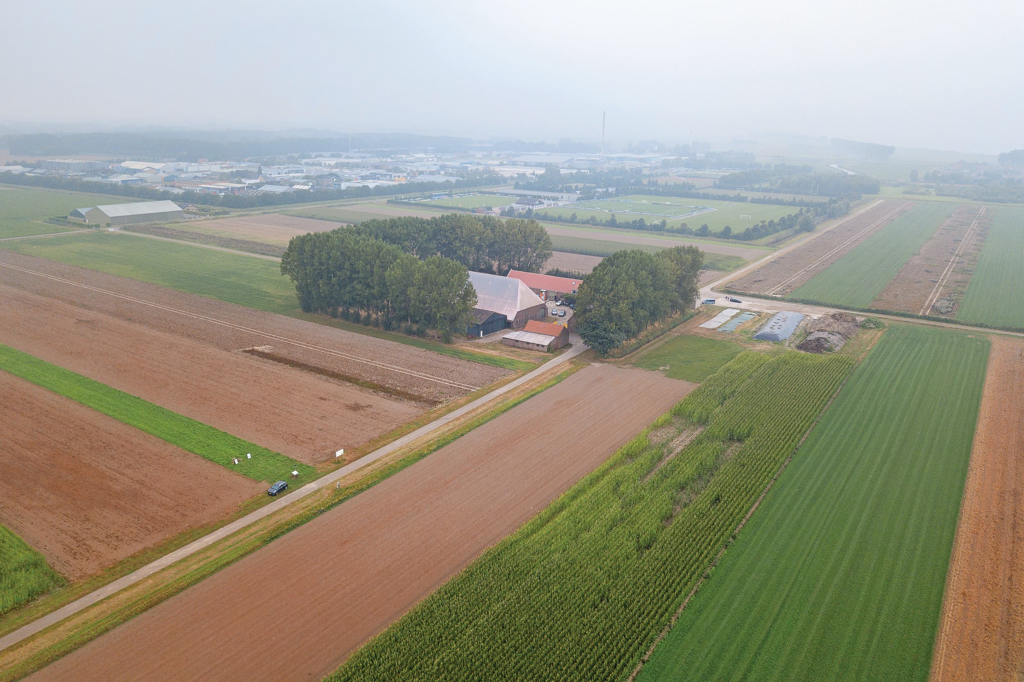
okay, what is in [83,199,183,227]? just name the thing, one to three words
barn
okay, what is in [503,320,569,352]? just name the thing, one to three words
shed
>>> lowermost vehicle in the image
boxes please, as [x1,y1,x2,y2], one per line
[267,480,290,495]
